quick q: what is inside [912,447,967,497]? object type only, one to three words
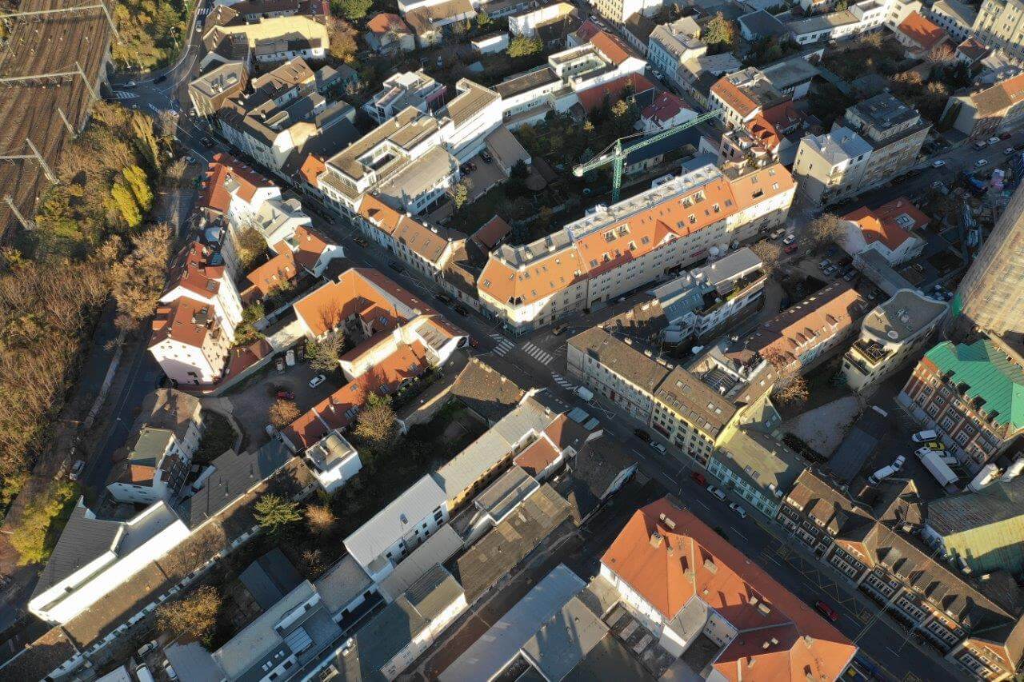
truck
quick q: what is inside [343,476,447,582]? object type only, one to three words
building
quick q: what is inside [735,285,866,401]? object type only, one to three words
house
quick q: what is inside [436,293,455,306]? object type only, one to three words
vehicle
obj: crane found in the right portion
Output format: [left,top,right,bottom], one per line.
[568,108,722,208]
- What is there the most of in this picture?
buildings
